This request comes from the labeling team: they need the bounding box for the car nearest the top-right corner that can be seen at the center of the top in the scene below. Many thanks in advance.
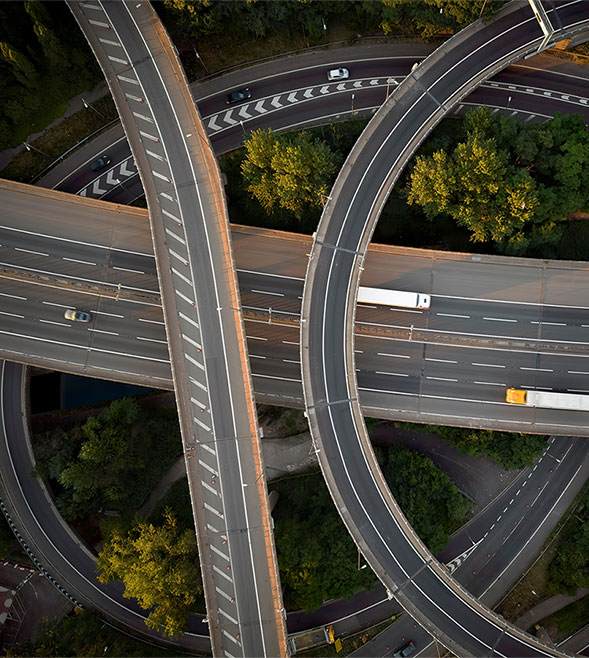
[327,69,349,82]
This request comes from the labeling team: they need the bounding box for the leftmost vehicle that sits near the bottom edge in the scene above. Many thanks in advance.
[293,624,336,650]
